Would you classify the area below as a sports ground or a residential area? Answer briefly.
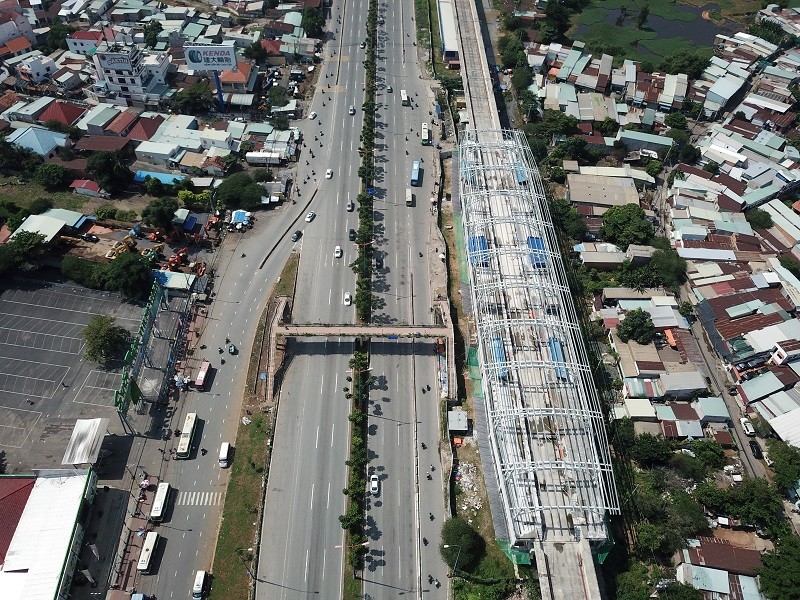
residential area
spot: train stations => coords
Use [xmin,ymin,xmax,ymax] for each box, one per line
[452,120,624,575]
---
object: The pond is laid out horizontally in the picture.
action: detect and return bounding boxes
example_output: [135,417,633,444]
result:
[564,0,749,74]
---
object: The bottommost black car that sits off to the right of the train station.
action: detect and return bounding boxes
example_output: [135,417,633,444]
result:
[746,438,763,459]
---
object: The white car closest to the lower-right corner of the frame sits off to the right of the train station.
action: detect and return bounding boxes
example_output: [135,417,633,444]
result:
[740,417,757,438]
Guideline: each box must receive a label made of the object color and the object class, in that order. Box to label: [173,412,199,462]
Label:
white bus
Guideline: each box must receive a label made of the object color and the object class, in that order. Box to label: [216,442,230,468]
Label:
white vehicle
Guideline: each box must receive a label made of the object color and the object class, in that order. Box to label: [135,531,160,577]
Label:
white bus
